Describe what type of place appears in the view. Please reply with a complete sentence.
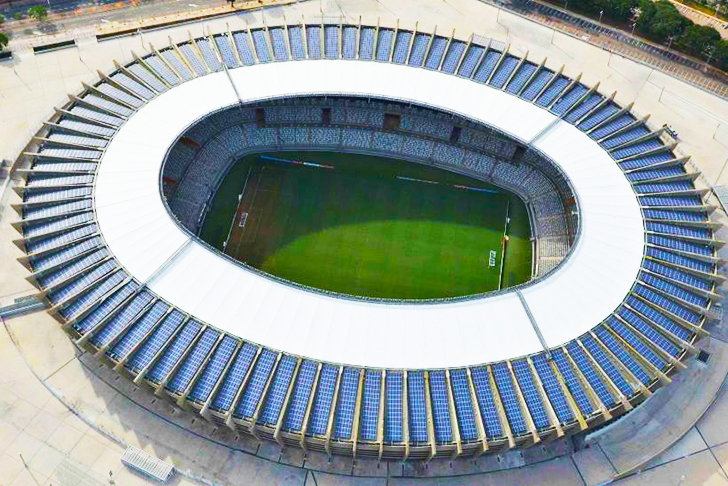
It's a sports ground.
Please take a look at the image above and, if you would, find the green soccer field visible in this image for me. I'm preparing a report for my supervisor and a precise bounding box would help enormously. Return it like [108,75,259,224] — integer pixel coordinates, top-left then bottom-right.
[200,149,531,301]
